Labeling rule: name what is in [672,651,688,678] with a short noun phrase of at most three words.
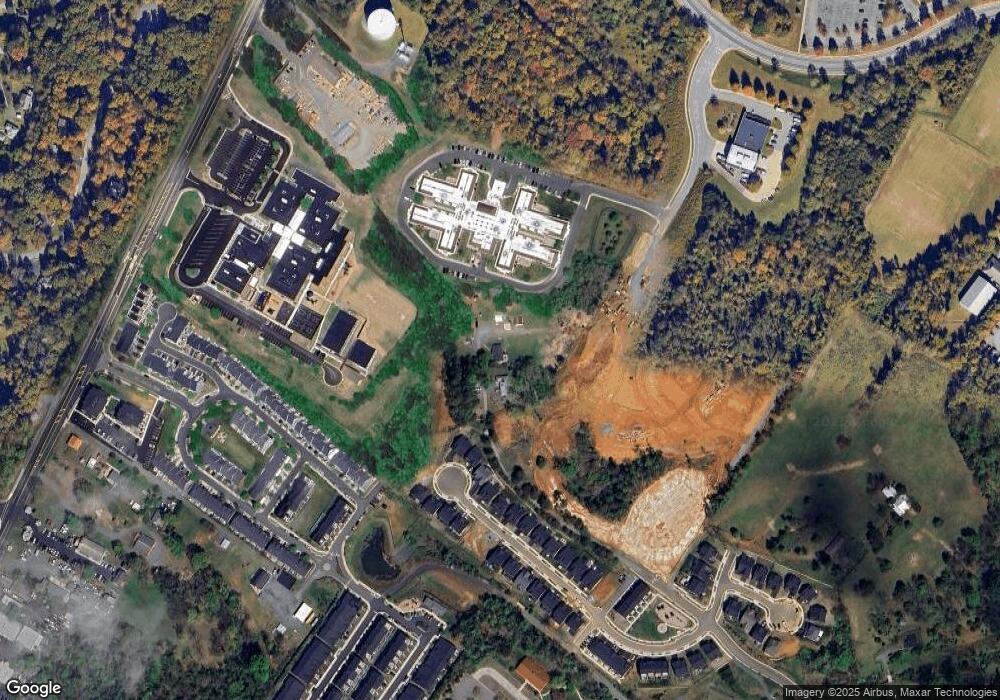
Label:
house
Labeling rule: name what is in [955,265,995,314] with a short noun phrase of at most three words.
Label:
building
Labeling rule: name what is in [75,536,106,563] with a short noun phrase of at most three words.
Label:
shed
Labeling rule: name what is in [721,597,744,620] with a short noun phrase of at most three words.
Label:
house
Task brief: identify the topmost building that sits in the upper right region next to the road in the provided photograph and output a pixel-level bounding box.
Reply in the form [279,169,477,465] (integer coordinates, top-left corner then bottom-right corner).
[728,111,771,171]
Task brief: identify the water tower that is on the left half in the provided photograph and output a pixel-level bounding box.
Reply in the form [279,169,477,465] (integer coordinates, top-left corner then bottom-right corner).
[365,6,396,37]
